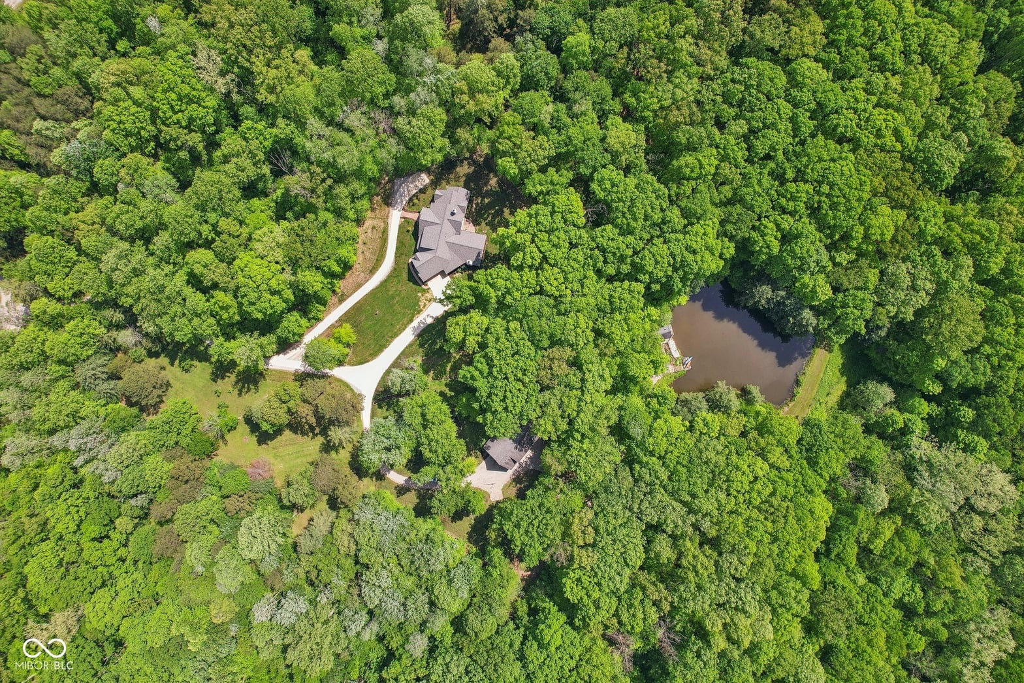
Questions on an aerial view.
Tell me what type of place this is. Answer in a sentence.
The area seen from above is a forest.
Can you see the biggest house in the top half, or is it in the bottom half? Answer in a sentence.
The biggest house is in the top half of the image.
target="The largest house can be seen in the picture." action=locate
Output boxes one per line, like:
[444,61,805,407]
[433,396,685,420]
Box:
[410,184,488,283]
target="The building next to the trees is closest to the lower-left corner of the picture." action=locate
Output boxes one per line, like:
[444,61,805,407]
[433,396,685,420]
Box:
[486,424,534,470]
